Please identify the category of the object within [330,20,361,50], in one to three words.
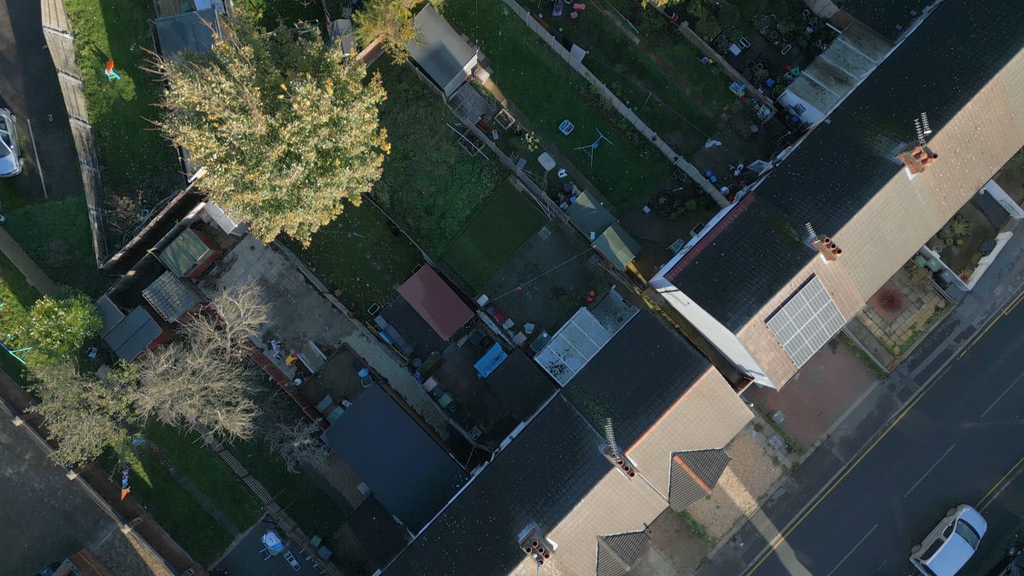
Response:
shed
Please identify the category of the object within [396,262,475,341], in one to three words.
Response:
house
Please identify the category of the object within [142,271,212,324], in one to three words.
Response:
shed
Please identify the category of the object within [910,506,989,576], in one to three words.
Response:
car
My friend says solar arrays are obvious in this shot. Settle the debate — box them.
[764,272,851,372]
